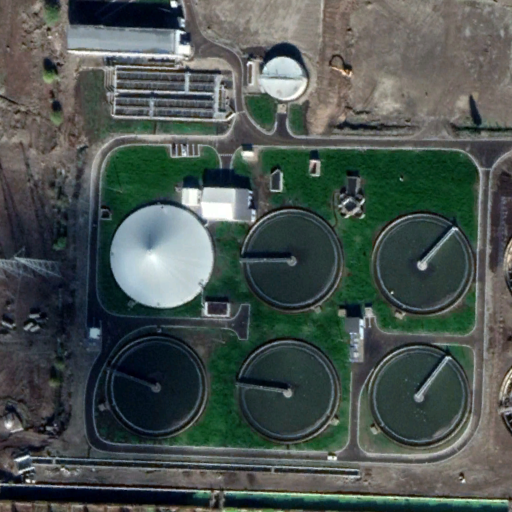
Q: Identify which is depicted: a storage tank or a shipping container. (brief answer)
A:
storage tank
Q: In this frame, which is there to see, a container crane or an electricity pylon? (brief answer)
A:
electricity pylon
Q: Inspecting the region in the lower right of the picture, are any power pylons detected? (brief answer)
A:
No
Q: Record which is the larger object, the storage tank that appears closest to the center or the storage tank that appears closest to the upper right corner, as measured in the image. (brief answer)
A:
the storage tank that appears closest to the center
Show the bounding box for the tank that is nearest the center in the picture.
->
[242,209,345,311]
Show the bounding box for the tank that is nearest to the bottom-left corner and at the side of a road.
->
[105,337,208,439]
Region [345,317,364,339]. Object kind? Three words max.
house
